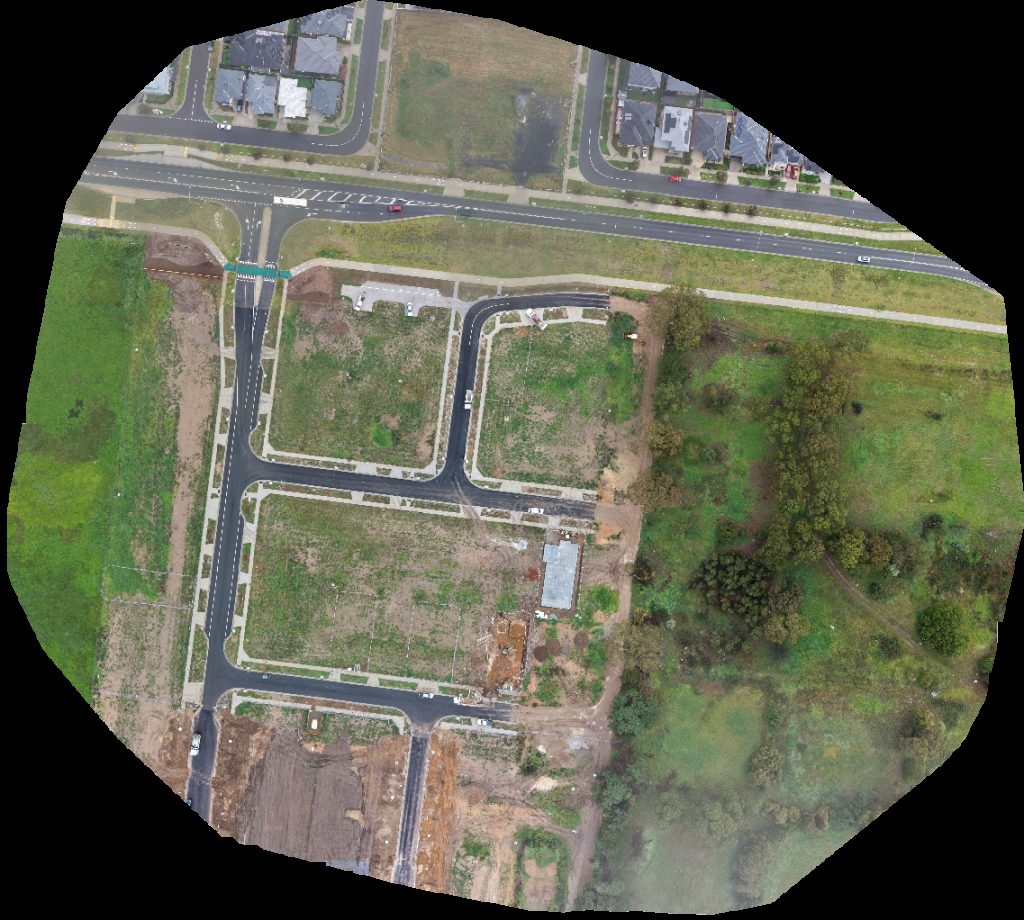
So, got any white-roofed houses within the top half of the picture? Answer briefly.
Yes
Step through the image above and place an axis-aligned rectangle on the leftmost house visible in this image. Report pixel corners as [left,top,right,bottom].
[139,65,169,96]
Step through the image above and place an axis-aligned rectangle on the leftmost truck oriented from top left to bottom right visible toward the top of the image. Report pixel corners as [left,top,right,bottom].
[526,307,547,331]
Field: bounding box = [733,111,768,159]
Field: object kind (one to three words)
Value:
house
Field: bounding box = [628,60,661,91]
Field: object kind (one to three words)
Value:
house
